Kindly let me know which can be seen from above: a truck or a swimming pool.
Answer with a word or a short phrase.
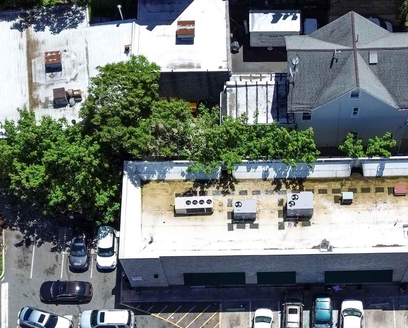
truck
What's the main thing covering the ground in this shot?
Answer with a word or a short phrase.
buildings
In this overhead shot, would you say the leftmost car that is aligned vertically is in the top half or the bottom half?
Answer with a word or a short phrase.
bottom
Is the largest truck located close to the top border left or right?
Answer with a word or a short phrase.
right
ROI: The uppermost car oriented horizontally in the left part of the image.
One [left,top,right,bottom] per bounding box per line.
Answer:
[38,278,93,304]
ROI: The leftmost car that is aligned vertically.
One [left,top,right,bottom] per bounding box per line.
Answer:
[65,219,91,275]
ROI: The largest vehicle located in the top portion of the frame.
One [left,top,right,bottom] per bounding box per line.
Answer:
[247,10,318,53]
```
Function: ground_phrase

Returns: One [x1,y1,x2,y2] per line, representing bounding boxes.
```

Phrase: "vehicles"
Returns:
[338,299,365,328]
[65,219,91,275]
[247,10,318,53]
[92,224,119,274]
[15,307,75,328]
[38,278,93,304]
[279,293,306,328]
[249,307,275,328]
[78,308,136,328]
[309,296,335,328]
